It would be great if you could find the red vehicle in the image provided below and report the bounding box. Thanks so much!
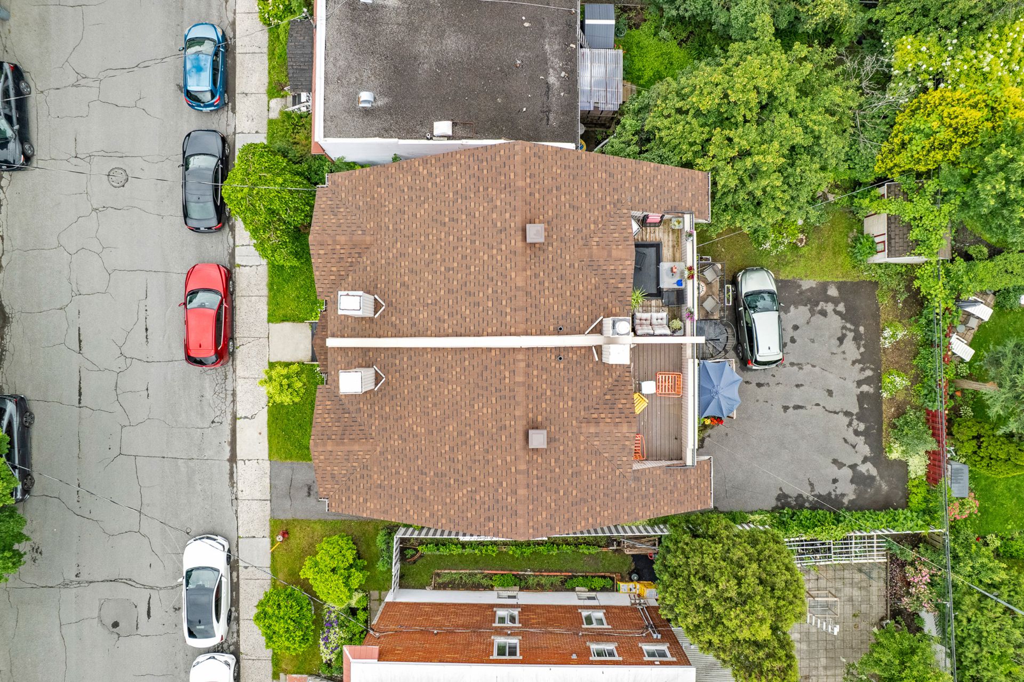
[178,262,237,369]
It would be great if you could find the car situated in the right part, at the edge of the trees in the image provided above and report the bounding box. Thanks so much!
[728,265,784,370]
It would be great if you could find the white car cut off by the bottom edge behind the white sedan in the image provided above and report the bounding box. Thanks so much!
[192,654,241,682]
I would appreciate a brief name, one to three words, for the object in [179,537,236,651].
car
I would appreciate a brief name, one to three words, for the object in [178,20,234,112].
car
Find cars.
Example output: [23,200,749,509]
[0,395,38,500]
[728,265,784,370]
[192,654,241,682]
[178,262,237,369]
[178,20,234,112]
[179,537,236,651]
[0,61,38,168]
[179,127,235,233]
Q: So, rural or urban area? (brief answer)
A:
urban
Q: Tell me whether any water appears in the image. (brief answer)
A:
No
